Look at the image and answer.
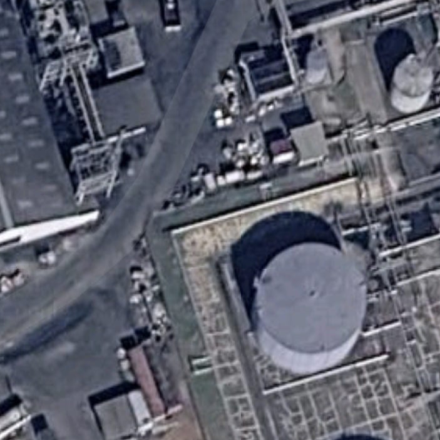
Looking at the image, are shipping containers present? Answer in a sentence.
Yes, you can see a shipping container in this photo.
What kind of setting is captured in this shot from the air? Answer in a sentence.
This image shows an industrial area.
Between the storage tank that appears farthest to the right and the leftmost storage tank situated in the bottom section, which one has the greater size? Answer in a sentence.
The leftmost storage tank situated in the bottom section takes up more space than the storage tank that appears farthest to the right does.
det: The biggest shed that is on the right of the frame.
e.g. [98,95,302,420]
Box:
[292,121,329,170]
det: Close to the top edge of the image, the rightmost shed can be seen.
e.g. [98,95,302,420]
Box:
[100,19,145,81]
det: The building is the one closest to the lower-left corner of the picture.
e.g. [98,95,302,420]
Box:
[95,395,138,440]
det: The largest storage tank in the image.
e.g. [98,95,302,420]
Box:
[248,242,369,375]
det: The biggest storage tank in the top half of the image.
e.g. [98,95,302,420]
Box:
[388,49,434,117]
